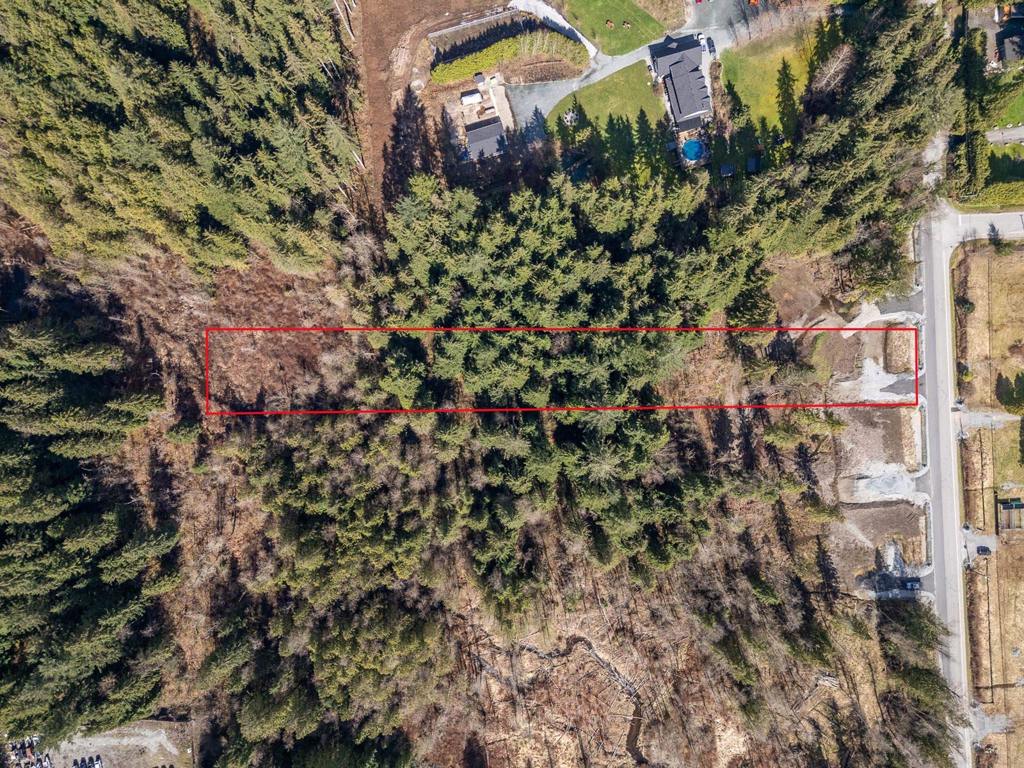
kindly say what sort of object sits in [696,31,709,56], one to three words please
vehicle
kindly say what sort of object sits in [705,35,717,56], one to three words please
vehicle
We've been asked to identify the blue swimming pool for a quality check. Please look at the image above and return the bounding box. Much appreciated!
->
[682,138,705,161]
